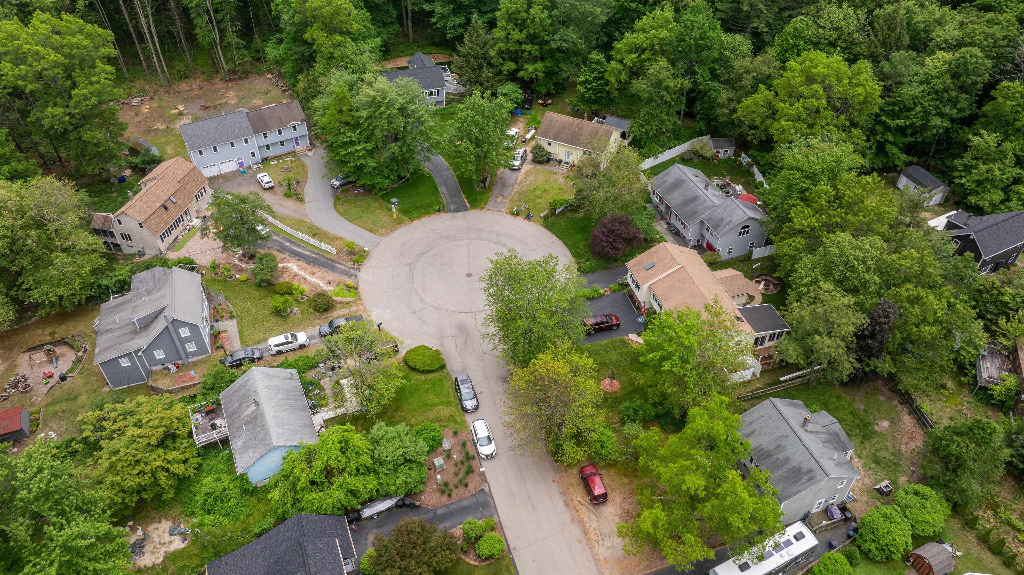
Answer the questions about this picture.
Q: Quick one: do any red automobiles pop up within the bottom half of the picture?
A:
Yes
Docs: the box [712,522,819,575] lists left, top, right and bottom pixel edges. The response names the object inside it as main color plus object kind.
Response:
white camper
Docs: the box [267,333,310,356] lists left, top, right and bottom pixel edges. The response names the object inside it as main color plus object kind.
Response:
white car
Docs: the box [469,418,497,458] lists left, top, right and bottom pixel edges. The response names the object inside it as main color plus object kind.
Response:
white car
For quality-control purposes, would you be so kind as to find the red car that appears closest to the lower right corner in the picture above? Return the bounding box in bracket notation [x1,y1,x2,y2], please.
[580,463,609,506]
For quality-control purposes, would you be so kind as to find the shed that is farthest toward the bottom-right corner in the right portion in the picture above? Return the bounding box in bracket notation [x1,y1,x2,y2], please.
[904,534,953,575]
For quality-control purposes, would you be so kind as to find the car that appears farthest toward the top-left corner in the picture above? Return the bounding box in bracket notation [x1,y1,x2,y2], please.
[253,170,277,190]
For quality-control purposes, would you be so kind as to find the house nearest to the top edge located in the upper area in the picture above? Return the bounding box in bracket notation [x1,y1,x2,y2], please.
[380,52,458,111]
